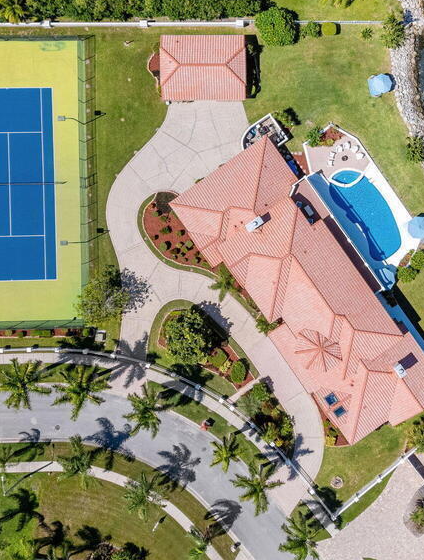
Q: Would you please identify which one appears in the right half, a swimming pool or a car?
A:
swimming pool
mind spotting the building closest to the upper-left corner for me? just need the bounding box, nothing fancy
[159,34,247,101]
